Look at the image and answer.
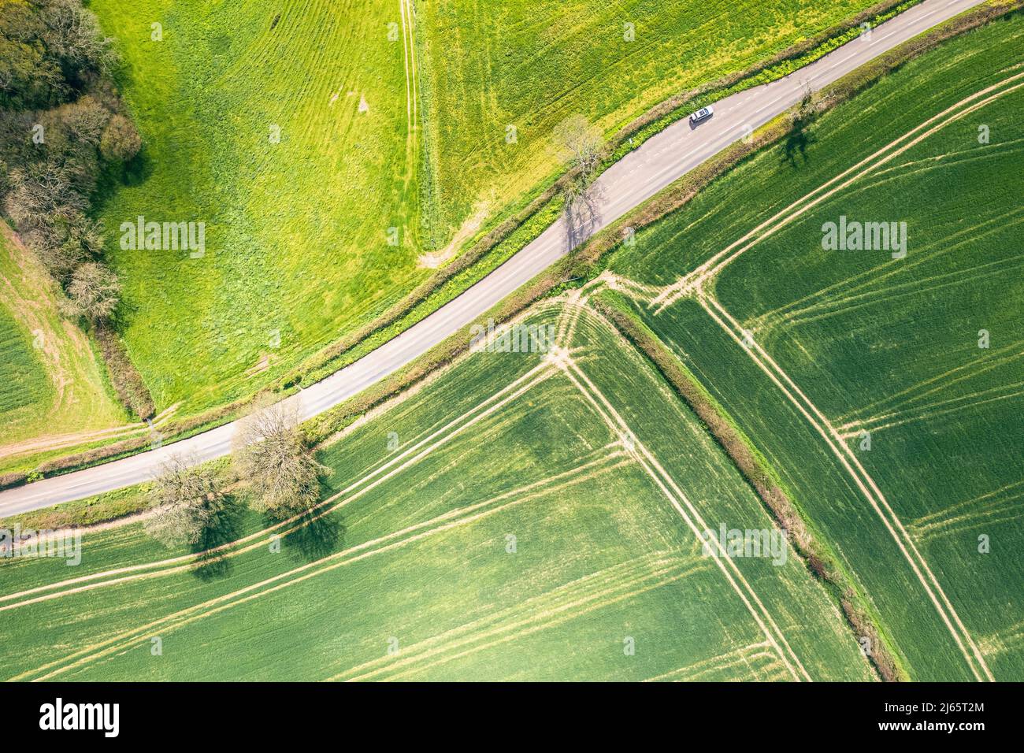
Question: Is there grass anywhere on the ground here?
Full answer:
Yes, grass shows up in the scene.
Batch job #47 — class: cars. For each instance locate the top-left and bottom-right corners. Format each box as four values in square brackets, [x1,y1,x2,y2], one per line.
[690,107,714,125]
